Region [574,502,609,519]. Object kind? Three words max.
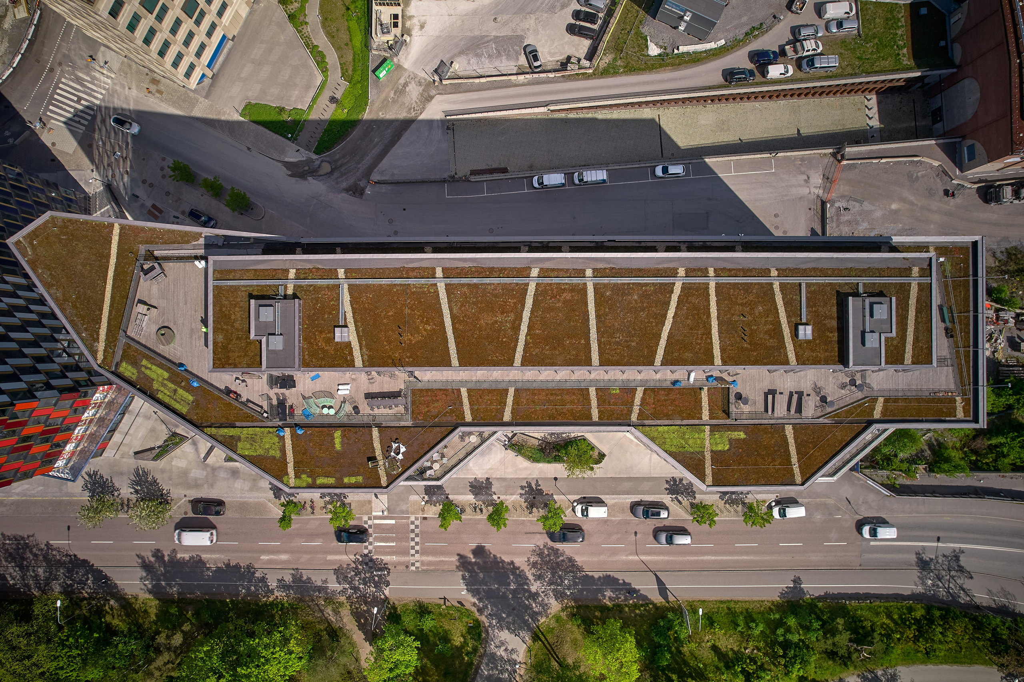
vehicle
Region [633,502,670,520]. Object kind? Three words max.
car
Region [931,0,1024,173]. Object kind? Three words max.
building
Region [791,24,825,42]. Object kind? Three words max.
car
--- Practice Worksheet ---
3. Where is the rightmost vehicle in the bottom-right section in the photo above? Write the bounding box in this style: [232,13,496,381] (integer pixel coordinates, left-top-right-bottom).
[860,523,899,540]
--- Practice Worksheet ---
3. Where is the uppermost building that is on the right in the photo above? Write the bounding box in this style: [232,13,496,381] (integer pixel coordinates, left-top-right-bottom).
[651,0,728,46]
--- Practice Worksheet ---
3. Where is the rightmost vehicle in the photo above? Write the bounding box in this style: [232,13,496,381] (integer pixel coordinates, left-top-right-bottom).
[991,183,1024,205]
